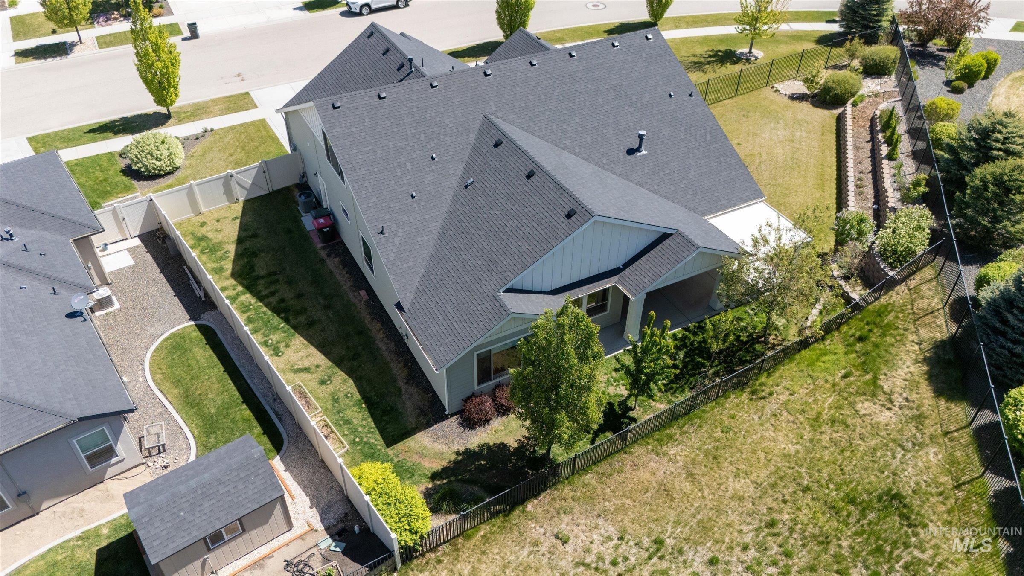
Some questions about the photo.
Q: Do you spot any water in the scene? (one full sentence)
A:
No, no water is visible.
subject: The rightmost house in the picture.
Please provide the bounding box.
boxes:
[273,21,768,418]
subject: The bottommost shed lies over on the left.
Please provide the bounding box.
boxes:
[122,431,292,576]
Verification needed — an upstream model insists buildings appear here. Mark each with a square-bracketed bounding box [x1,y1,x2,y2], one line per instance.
[122,431,292,576]
[273,21,768,418]
[0,149,147,531]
